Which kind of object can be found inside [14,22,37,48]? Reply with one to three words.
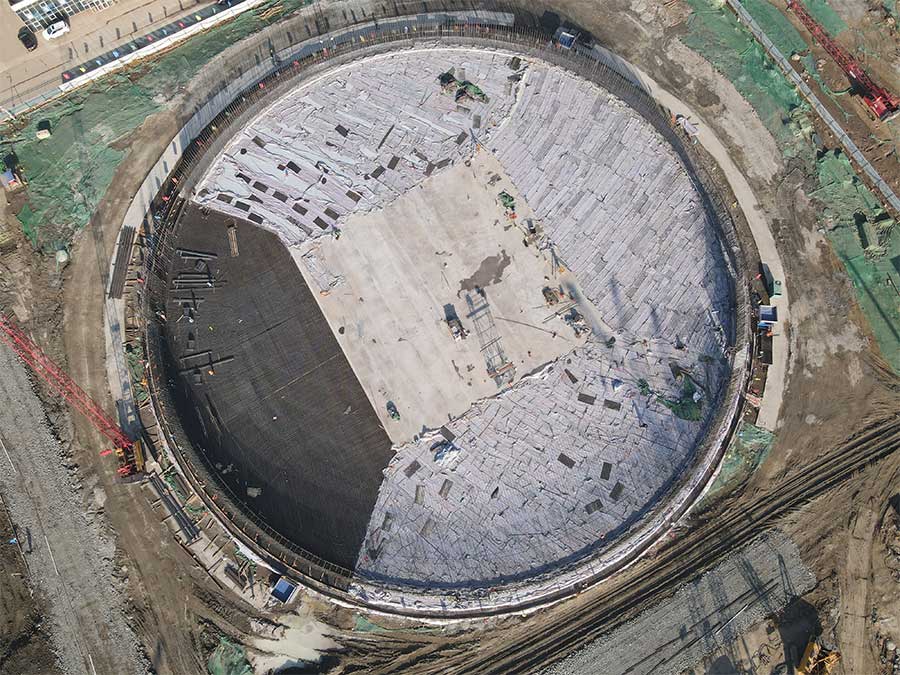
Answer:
car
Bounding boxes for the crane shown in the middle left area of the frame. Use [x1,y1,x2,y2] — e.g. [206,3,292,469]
[0,320,149,485]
